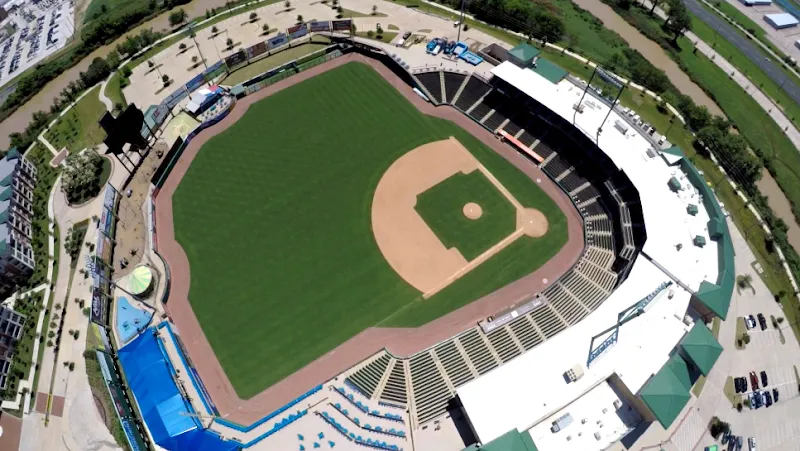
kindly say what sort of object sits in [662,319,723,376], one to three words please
building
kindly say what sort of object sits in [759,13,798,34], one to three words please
building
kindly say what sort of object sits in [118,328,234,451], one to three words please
tent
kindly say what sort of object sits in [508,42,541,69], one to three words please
shed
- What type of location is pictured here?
sports ground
